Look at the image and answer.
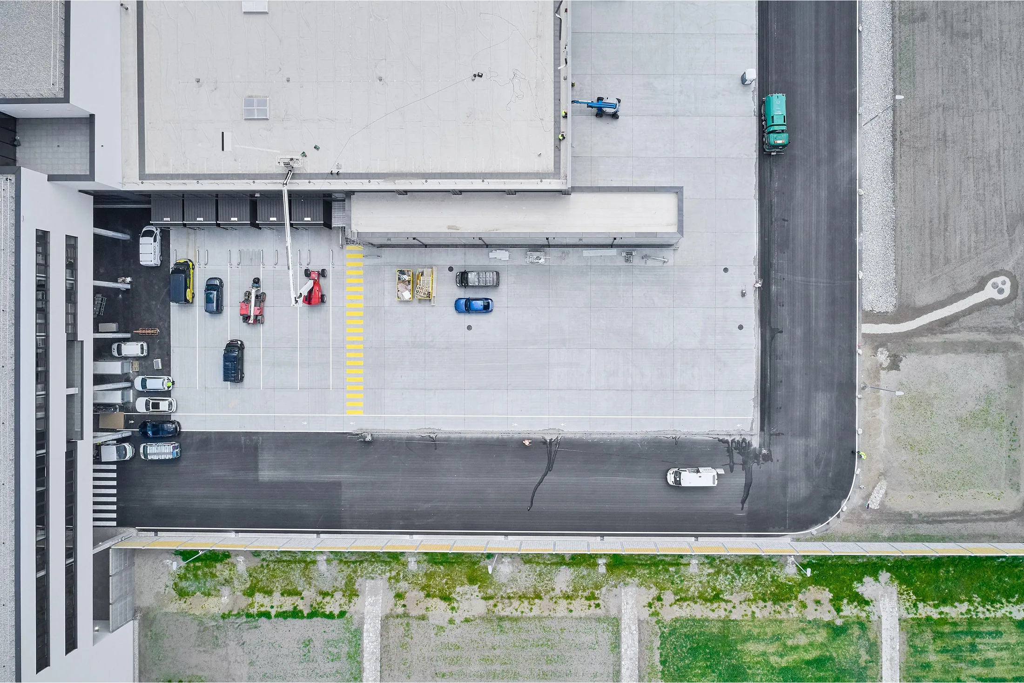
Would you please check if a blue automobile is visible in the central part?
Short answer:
Yes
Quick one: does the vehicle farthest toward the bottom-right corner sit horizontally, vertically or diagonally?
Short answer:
horizontally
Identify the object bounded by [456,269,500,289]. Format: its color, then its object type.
gray vehicle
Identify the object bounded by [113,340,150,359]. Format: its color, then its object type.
white car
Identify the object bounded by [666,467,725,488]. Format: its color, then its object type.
white vehicle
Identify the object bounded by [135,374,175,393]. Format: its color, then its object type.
white car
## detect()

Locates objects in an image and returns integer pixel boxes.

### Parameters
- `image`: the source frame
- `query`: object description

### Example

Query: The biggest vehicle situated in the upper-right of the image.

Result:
[759,94,787,157]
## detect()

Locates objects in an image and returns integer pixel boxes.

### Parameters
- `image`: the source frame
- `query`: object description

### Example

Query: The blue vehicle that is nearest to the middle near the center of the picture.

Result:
[455,296,494,315]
